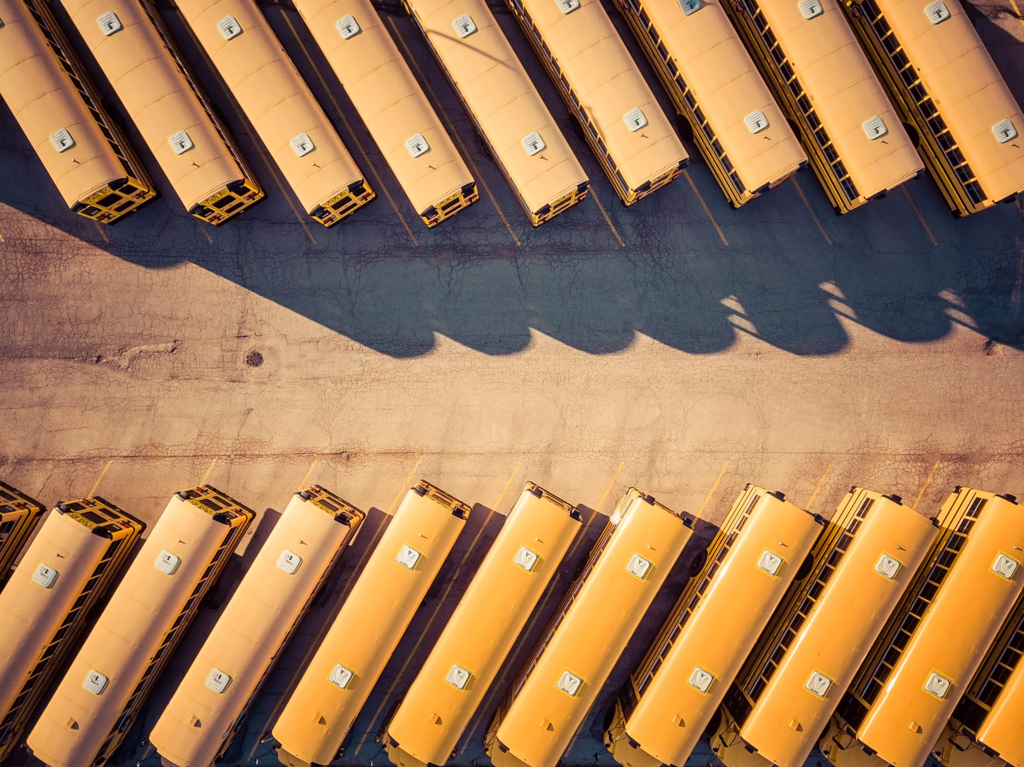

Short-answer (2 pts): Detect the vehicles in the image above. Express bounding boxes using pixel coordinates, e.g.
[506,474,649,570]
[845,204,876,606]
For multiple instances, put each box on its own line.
[811,483,1024,767]
[291,0,482,234]
[504,0,692,211]
[613,0,810,213]
[474,483,696,767]
[719,0,926,219]
[701,483,939,767]
[144,479,368,767]
[925,580,1024,767]
[260,475,474,767]
[61,0,270,231]
[0,476,51,590]
[0,491,151,767]
[0,0,164,230]
[833,0,1024,221]
[370,476,586,767]
[596,479,824,767]
[396,0,593,233]
[178,0,379,233]
[29,480,259,767]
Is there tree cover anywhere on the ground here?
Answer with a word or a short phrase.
No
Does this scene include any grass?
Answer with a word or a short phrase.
No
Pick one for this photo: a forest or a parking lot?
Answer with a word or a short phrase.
parking lot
